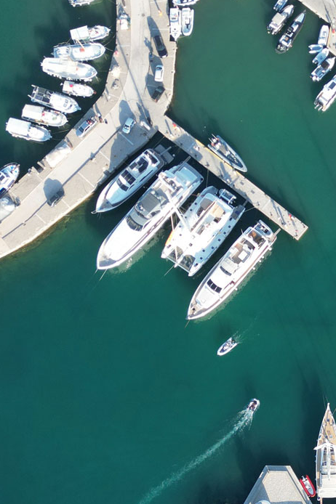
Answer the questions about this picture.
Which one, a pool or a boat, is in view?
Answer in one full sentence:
There is a boat in the scene.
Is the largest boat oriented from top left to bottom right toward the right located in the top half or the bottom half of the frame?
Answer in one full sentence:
It is in the top half that the largest boat oriented from top left to bottom right toward the right appears.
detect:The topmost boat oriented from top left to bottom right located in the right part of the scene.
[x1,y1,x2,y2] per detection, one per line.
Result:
[207,138,247,172]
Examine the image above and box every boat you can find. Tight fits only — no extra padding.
[218,336,238,355]
[272,0,287,13]
[174,0,198,6]
[314,401,336,504]
[207,138,247,172]
[0,166,17,198]
[19,104,67,128]
[90,143,171,221]
[58,79,103,99]
[170,10,181,39]
[163,175,257,280]
[185,207,280,328]
[309,45,327,52]
[313,50,328,66]
[247,399,258,413]
[316,76,336,109]
[311,58,335,82]
[276,10,308,53]
[299,474,314,496]
[22,83,96,112]
[67,0,97,6]
[182,6,193,36]
[53,40,112,61]
[96,164,221,276]
[67,24,109,43]
[38,54,97,81]
[268,6,294,35]
[1,116,68,142]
